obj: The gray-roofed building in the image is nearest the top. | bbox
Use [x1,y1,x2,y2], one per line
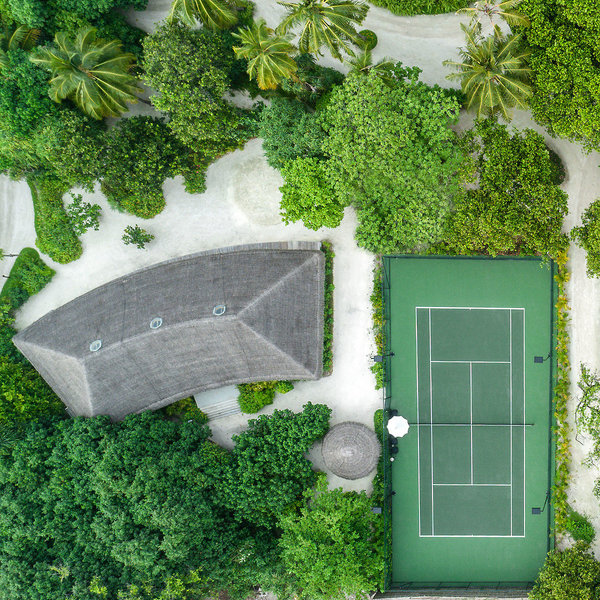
[12,241,325,424]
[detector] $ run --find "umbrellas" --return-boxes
[387,415,410,438]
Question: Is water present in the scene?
No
